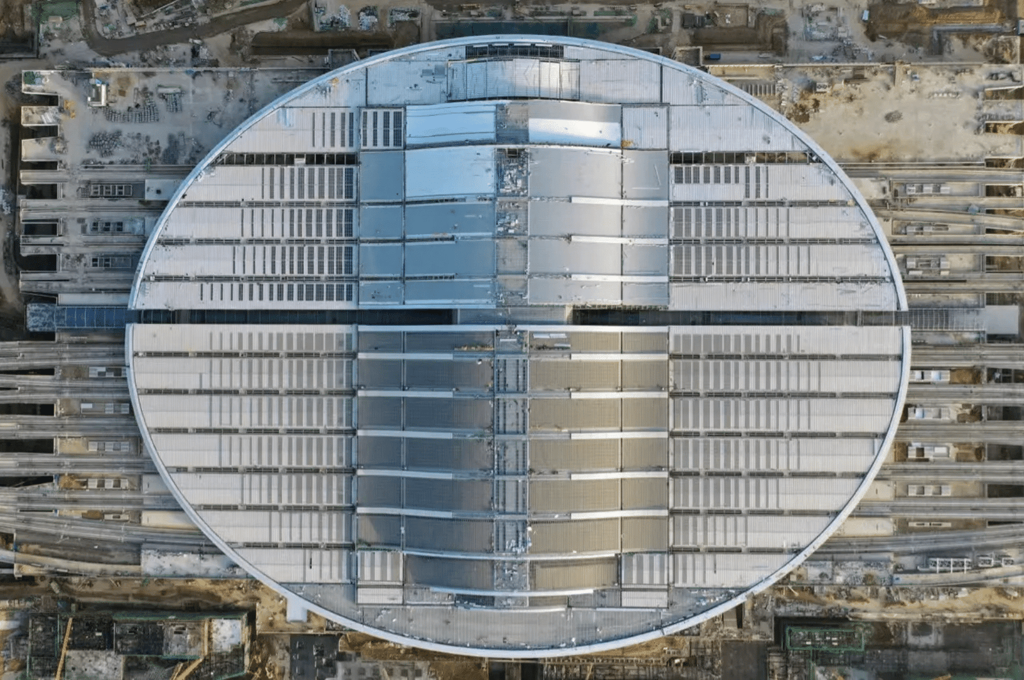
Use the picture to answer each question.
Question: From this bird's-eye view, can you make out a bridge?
Yes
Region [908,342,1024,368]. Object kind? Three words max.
bridge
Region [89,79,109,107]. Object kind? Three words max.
shed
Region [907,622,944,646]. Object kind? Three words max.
building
